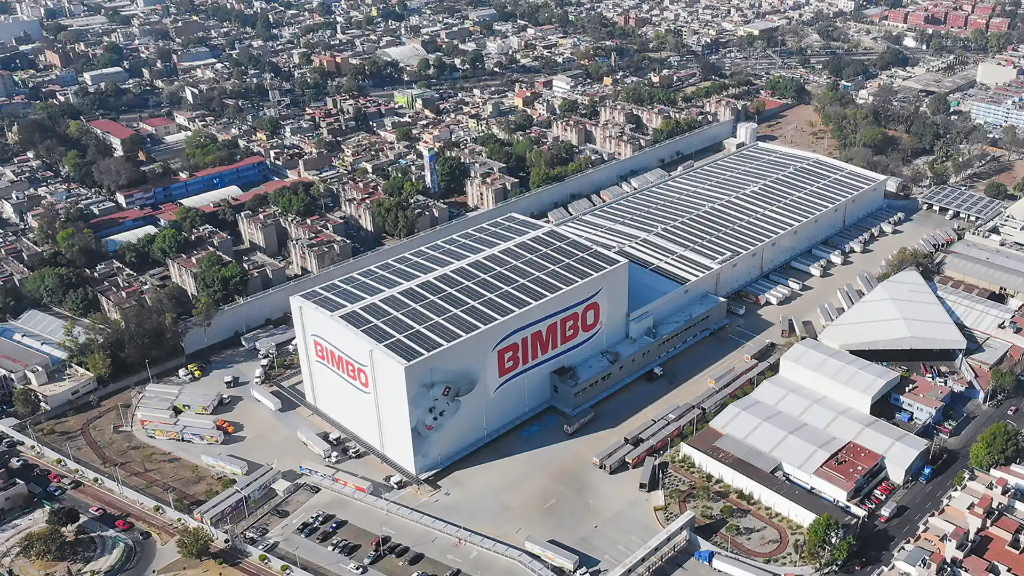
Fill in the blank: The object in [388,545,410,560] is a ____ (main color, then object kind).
gray car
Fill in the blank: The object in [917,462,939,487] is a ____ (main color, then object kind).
blue truck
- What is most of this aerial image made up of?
buildings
